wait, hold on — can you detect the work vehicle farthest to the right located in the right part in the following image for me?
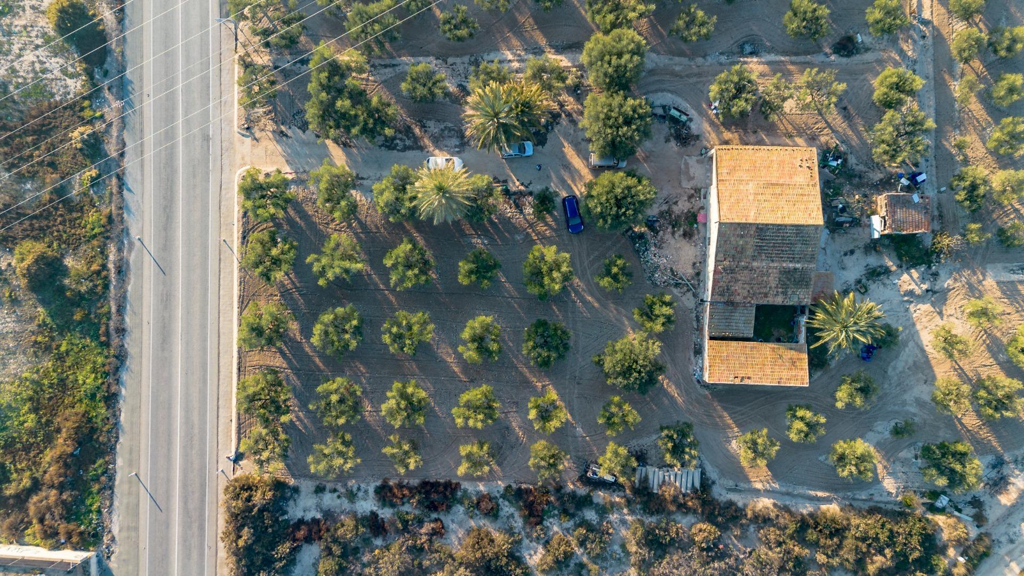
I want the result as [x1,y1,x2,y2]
[817,149,849,171]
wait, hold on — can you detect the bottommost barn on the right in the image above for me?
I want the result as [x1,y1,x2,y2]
[696,340,810,388]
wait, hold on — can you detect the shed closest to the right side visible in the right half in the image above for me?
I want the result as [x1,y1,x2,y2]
[872,194,931,234]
